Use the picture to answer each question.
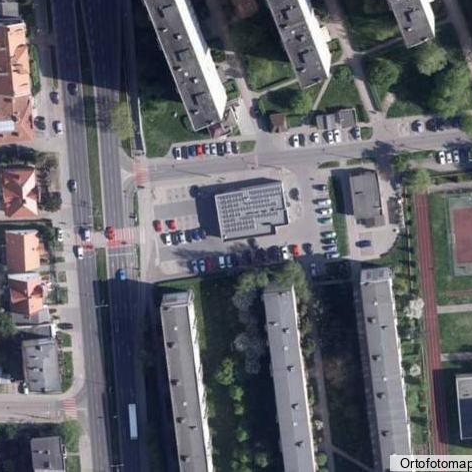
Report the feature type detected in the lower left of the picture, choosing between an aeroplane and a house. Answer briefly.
house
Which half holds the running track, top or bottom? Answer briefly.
bottom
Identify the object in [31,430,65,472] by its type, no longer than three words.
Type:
house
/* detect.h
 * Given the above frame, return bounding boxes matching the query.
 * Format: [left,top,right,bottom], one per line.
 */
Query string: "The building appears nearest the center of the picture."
[215,178,289,241]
